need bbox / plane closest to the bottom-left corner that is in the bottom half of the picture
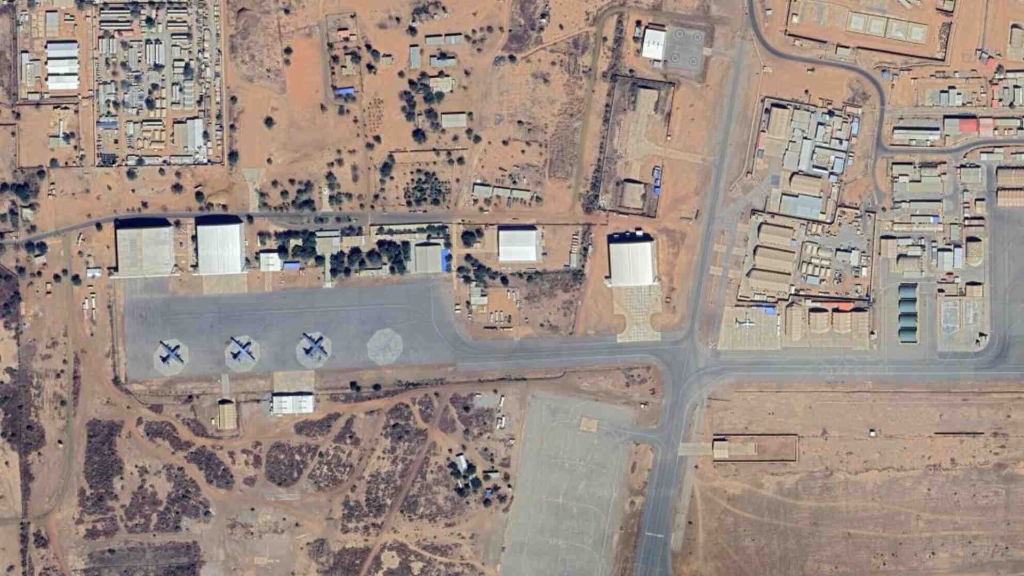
[162,343,185,366]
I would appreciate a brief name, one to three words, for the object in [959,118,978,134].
building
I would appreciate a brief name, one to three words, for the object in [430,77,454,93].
house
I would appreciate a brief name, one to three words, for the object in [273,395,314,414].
hangar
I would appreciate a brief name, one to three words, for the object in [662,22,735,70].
helipad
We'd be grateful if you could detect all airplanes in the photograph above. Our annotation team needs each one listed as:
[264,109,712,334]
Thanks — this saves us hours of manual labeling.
[232,340,256,363]
[304,335,327,358]
[162,343,185,366]
[738,316,755,333]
